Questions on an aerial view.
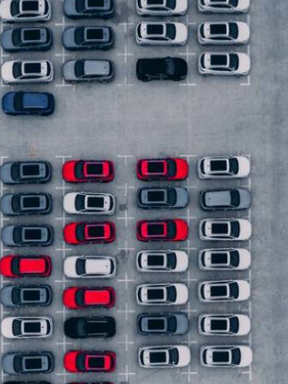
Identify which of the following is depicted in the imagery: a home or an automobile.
automobile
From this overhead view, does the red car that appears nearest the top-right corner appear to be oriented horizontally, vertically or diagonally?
horizontally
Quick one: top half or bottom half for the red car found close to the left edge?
bottom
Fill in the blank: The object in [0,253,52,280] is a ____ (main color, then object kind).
red car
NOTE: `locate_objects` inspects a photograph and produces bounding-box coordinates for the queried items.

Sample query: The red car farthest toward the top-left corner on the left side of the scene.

[62,158,115,183]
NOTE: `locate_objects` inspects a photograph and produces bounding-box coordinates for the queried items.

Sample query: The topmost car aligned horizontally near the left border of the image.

[0,0,52,23]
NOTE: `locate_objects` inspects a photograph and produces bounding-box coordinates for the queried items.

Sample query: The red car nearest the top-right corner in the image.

[136,156,189,181]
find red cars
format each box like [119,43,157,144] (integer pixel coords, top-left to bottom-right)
[63,286,116,311]
[0,253,52,280]
[136,156,189,181]
[63,220,116,245]
[64,350,117,375]
[136,217,189,242]
[62,158,115,183]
